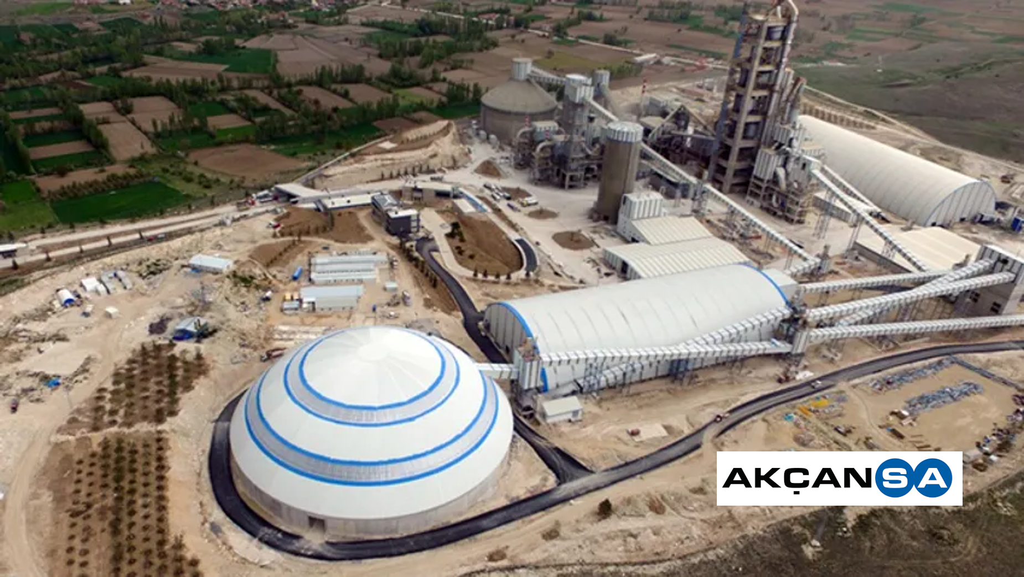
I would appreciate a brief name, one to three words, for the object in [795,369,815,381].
vehicle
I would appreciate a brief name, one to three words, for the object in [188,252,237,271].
shed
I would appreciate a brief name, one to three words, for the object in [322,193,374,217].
building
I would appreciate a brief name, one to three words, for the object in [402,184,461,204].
building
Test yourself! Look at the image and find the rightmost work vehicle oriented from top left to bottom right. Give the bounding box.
[998,400,1022,418]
